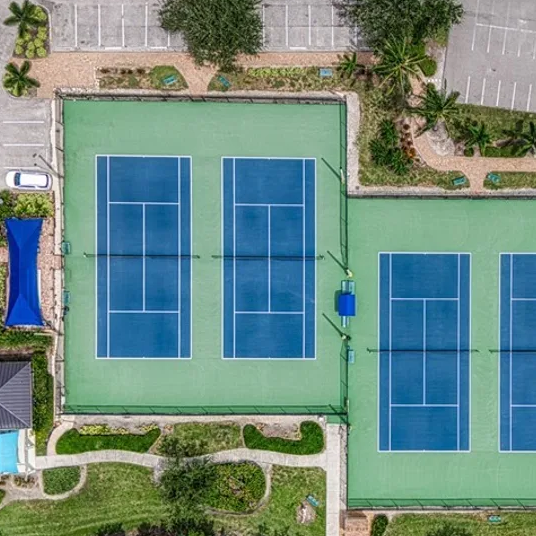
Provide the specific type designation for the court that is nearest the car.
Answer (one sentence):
The court that is nearest the car is a tennis court.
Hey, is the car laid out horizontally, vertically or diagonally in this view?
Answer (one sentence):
I'd say the car is aligned horizontally in the picture.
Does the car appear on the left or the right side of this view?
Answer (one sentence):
The car appears in the left half of the scene.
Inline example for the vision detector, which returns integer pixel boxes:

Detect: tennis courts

[207,101,347,414]
[63,100,207,414]
[484,198,536,508]
[347,198,484,508]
